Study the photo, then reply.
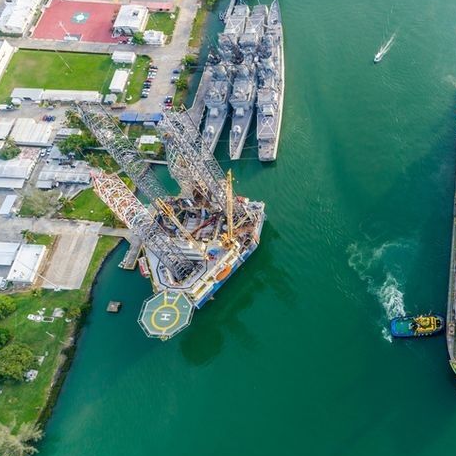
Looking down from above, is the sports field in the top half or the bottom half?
top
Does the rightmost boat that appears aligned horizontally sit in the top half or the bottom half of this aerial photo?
bottom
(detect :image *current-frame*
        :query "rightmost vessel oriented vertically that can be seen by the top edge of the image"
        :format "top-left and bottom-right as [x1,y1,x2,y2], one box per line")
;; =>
[256,0,285,166]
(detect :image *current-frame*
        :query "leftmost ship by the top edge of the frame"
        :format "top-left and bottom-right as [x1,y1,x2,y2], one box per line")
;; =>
[210,4,249,158]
